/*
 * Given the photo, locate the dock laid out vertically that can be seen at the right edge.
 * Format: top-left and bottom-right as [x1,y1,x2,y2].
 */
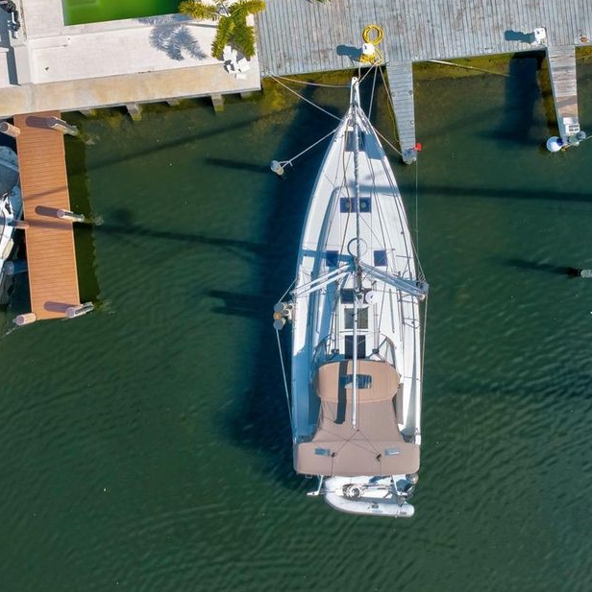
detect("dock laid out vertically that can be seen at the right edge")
[545,43,580,138]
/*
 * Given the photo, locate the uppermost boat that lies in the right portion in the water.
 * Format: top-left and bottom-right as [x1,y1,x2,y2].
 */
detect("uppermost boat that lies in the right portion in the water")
[290,78,428,496]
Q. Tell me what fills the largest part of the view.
water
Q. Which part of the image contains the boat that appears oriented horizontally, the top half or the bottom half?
bottom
